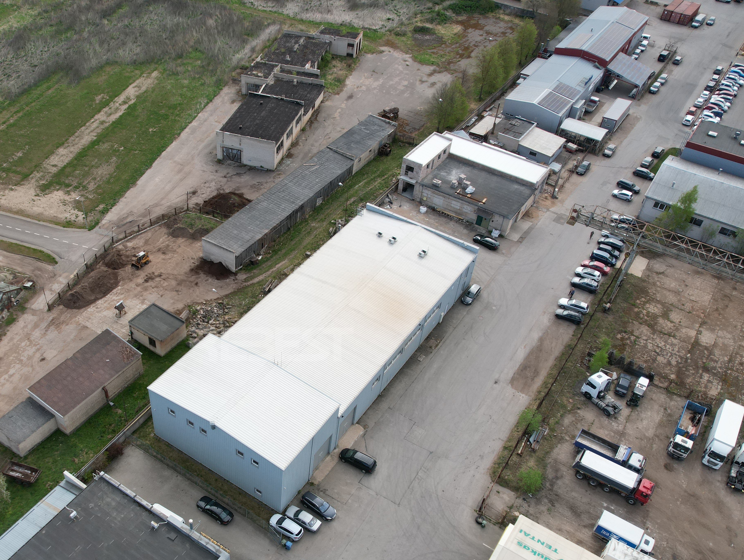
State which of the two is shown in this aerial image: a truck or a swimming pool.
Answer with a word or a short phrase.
truck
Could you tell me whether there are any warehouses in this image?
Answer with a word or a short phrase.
Yes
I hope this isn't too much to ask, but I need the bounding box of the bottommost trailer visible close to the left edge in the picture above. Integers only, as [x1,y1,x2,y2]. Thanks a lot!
[0,458,42,485]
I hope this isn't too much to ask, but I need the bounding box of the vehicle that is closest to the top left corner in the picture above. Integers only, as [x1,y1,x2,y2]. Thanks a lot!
[130,250,151,272]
